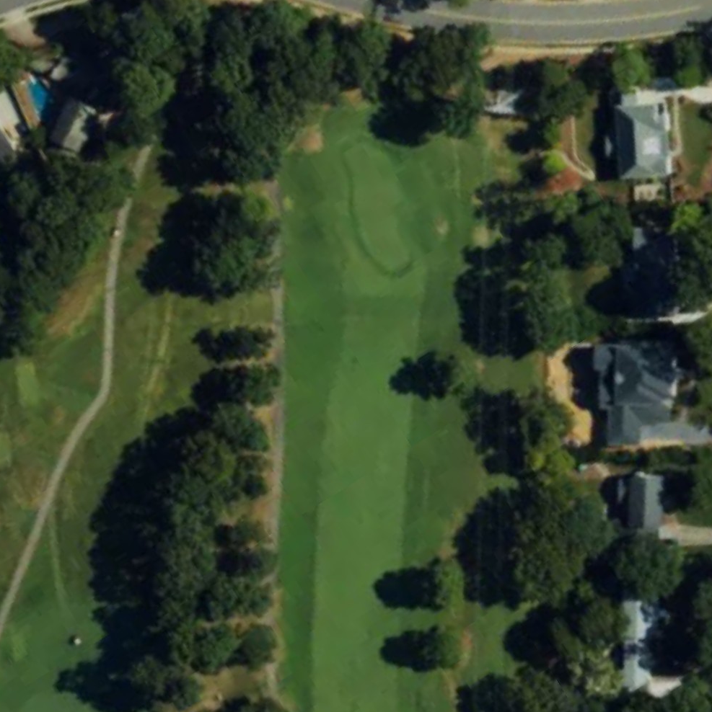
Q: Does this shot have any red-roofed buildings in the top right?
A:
No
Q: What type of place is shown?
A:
golf course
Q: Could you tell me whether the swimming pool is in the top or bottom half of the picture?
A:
top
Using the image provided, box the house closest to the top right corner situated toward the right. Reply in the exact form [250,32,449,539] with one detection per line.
[615,104,674,180]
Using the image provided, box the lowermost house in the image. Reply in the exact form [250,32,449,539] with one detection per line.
[620,599,657,693]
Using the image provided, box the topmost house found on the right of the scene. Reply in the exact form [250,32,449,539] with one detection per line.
[481,88,524,116]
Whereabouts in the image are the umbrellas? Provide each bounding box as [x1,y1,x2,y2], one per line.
[52,63,66,78]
